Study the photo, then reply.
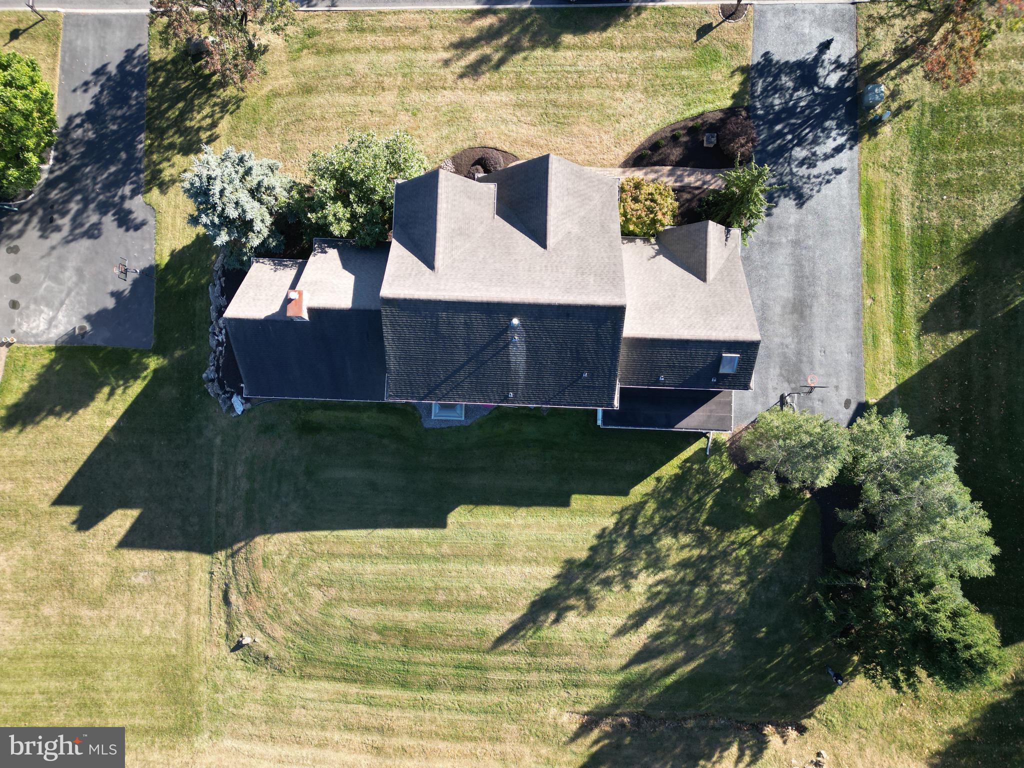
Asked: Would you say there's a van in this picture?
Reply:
No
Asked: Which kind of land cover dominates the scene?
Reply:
grass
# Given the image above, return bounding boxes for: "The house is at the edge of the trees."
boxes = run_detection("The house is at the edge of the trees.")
[226,155,765,454]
